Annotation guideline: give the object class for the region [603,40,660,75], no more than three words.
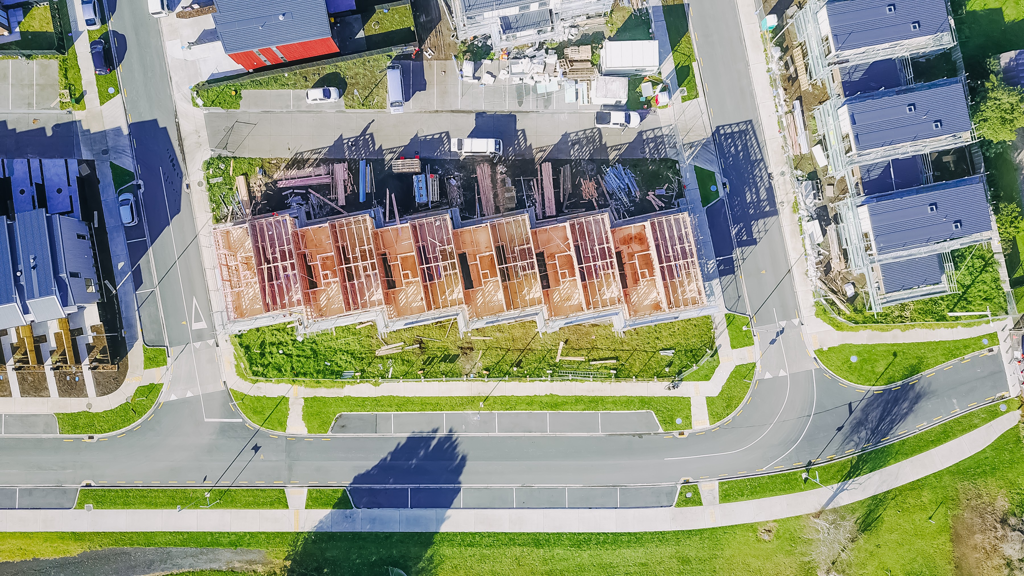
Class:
building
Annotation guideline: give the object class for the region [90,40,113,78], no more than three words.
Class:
car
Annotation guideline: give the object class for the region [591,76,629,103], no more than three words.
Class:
building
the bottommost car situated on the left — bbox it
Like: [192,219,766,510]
[119,193,140,228]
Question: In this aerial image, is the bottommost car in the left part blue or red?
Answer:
blue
